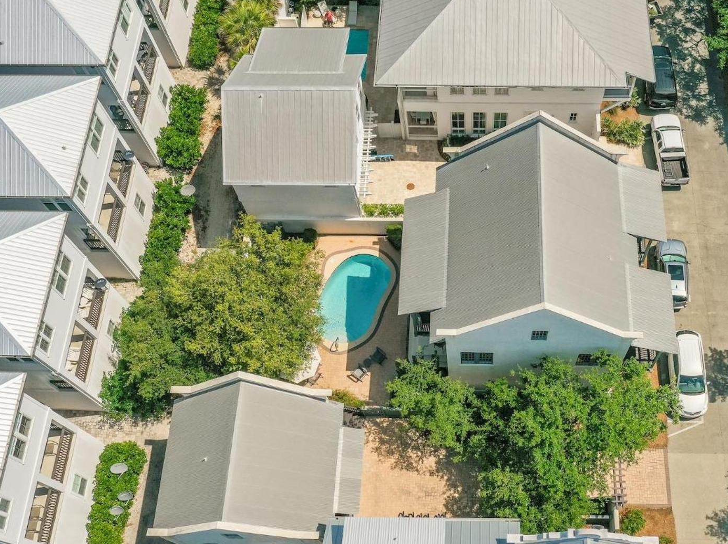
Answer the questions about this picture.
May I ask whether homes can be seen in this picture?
Yes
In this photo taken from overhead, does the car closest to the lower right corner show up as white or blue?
white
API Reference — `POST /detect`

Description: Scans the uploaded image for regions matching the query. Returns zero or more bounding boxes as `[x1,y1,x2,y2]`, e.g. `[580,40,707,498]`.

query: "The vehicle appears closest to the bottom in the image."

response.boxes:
[669,327,717,415]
